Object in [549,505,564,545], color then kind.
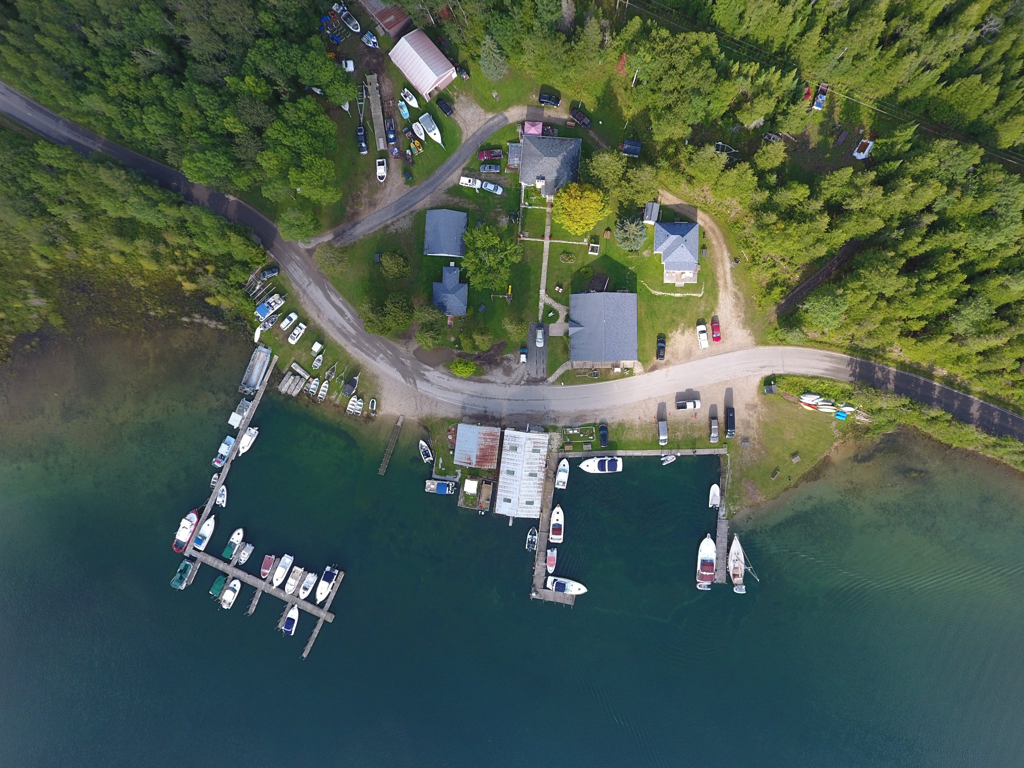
white boat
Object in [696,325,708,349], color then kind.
white vehicle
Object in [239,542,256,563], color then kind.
white boat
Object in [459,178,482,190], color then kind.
white vehicle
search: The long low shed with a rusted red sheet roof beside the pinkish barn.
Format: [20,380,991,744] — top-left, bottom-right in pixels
[364,0,412,36]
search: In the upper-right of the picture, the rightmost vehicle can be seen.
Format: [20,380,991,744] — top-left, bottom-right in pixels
[854,138,872,161]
